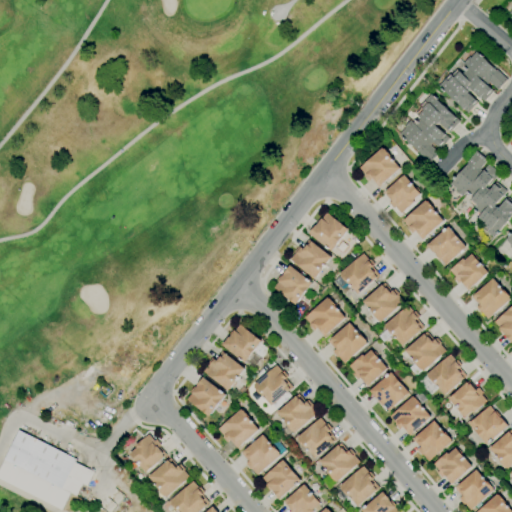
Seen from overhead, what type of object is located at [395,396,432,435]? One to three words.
house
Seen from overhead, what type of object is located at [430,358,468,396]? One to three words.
house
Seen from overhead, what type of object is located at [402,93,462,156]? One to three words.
building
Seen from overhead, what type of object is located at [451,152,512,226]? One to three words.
building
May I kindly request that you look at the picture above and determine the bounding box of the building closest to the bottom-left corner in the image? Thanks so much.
[0,430,94,511]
